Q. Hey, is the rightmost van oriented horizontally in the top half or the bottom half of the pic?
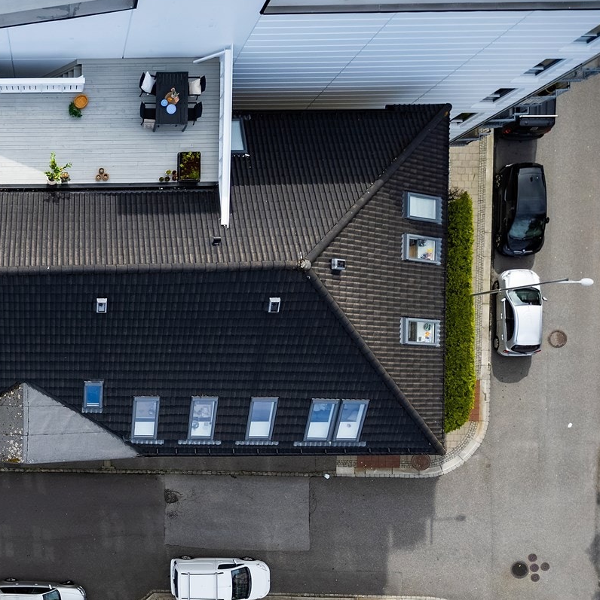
bottom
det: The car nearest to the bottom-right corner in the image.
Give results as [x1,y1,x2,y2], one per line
[491,267,547,359]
